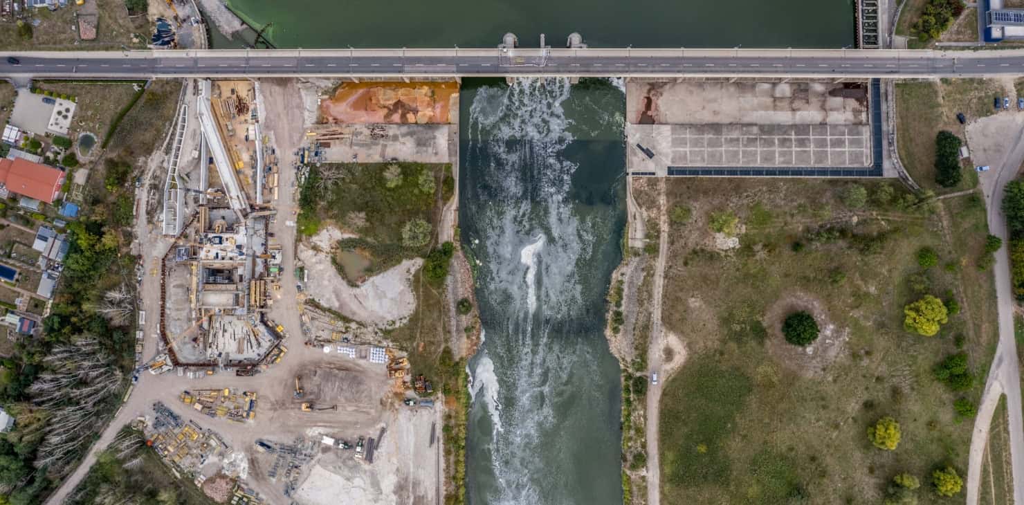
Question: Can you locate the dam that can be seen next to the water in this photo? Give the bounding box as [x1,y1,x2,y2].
[301,34,870,244]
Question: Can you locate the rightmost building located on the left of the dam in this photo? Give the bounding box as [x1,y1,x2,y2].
[197,212,269,317]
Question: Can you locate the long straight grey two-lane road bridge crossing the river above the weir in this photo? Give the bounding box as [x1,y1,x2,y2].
[149,46,939,82]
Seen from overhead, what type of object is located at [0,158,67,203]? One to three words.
house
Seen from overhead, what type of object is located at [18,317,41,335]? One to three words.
house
